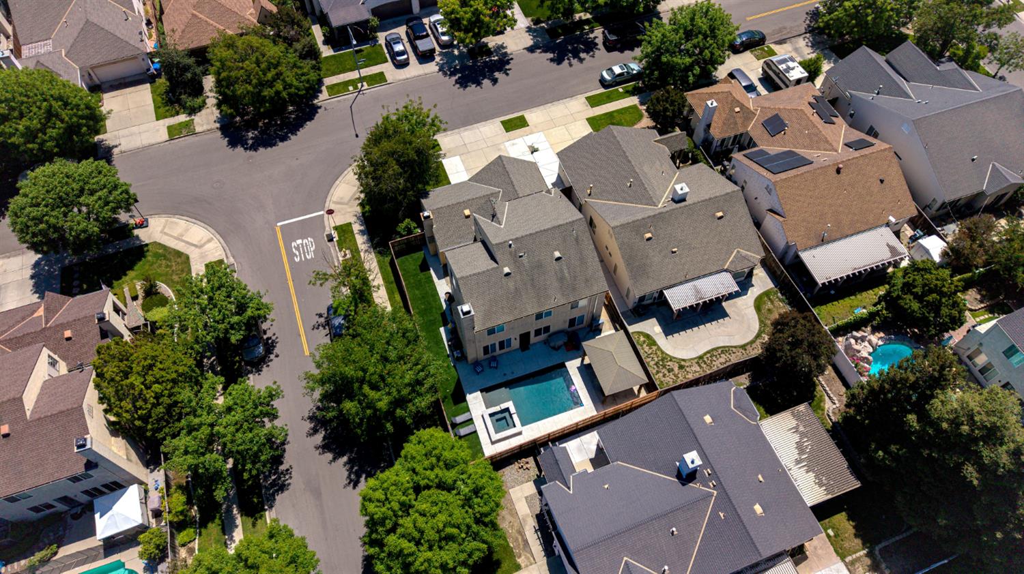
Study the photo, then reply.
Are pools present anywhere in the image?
Yes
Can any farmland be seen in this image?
No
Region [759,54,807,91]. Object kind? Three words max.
vehicle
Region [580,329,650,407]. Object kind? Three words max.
gazebo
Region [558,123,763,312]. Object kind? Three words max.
house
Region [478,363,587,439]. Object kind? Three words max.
swimming pool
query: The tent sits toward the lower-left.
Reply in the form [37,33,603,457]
[94,484,157,547]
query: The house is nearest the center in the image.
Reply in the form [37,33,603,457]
[421,155,614,364]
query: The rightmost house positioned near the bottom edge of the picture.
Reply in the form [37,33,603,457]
[534,382,828,574]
